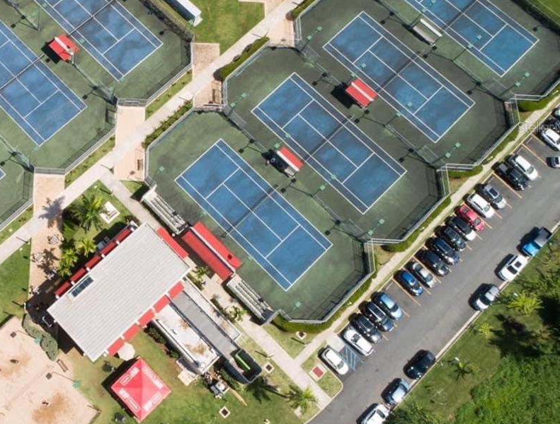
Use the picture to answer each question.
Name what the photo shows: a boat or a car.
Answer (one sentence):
Visible in the photo is a car.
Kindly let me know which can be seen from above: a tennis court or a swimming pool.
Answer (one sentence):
I can see a tennis court in this picture.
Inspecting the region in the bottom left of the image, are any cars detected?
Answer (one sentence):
No, in the bottom left of the image there is no car.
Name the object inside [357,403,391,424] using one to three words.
car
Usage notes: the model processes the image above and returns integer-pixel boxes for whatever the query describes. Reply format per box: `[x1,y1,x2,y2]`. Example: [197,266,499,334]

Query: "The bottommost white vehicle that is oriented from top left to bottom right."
[318,344,349,375]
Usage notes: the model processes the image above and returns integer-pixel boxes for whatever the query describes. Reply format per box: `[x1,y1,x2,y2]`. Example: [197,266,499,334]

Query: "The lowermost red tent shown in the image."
[111,358,172,422]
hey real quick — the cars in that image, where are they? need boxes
[350,312,382,343]
[318,344,349,375]
[343,325,376,358]
[547,113,560,133]
[549,155,560,168]
[508,153,539,182]
[404,350,437,379]
[438,224,469,252]
[406,258,436,288]
[538,125,560,153]
[474,283,501,309]
[498,255,529,281]
[393,269,424,298]
[418,247,450,278]
[446,211,477,241]
[454,203,485,231]
[465,189,496,219]
[382,378,411,404]
[372,291,403,321]
[357,403,391,424]
[361,301,394,332]
[476,180,507,209]
[429,236,462,266]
